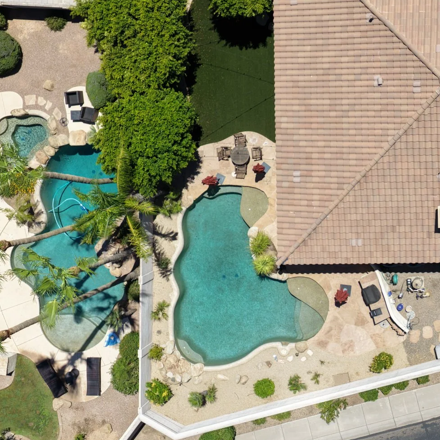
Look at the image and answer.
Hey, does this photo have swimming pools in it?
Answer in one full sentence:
Yes, the image includes a swimming pool.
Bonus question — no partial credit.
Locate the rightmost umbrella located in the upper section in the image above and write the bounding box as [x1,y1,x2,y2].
[251,161,271,177]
